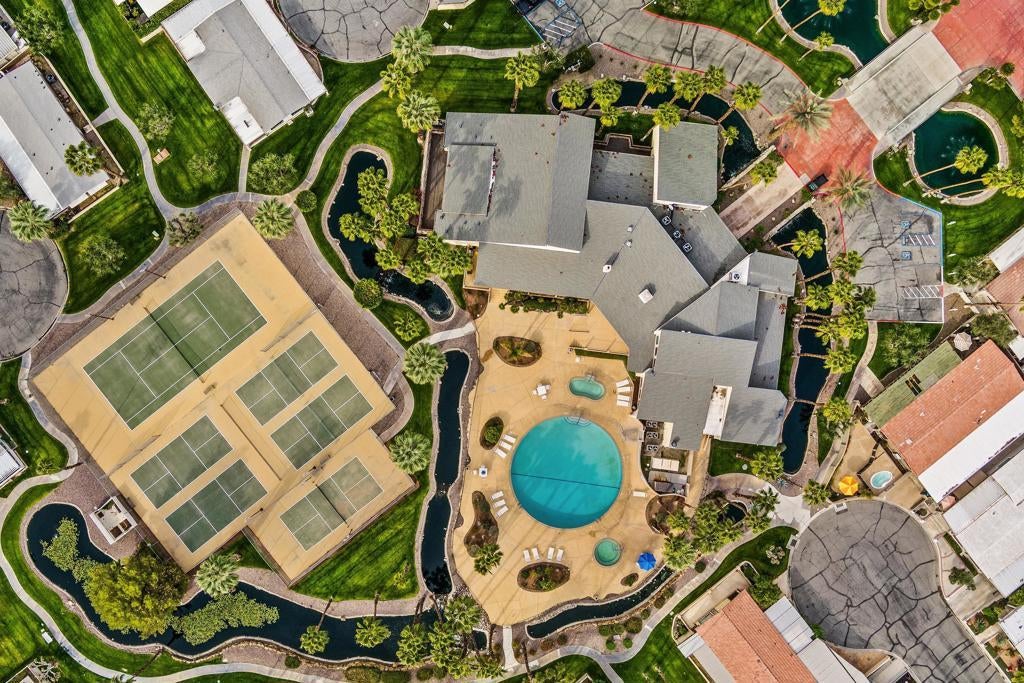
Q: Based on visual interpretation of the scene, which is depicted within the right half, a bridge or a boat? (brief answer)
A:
bridge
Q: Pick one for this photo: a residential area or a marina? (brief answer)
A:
residential area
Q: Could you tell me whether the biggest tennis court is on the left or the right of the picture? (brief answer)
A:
left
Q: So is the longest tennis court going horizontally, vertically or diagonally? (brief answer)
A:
diagonally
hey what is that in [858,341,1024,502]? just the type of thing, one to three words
house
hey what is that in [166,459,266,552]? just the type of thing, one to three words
sports court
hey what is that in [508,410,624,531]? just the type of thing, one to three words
swimming pool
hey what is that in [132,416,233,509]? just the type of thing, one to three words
sports court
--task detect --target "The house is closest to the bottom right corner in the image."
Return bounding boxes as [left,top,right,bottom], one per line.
[996,604,1024,655]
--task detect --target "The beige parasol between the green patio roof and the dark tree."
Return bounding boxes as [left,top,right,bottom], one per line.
[948,333,967,349]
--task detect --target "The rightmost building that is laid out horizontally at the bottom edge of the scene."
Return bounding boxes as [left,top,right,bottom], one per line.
[677,589,870,683]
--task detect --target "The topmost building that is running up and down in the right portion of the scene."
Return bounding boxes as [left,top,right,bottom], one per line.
[979,228,1024,334]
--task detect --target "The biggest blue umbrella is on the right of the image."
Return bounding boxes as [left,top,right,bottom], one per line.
[637,550,655,569]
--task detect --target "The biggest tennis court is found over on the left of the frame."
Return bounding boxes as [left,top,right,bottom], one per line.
[84,261,267,430]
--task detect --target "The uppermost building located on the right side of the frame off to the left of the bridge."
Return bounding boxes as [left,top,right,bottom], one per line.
[435,112,797,450]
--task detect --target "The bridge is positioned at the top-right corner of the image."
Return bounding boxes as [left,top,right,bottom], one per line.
[836,17,984,154]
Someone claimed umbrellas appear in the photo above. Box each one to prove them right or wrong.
[836,475,855,494]
[637,550,655,569]
[948,333,967,349]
